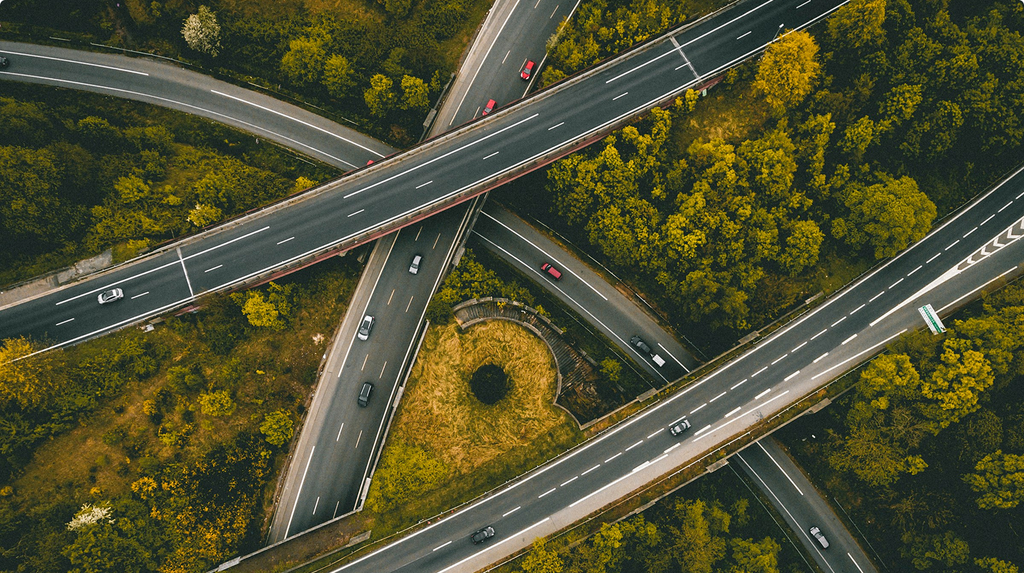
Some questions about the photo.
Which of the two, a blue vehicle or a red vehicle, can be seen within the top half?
red vehicle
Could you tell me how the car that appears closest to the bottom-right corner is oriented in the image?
on a diagonal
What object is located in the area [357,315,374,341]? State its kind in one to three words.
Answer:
car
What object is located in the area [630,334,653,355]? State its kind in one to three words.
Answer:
car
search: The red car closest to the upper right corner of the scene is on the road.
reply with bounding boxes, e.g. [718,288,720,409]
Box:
[520,59,536,80]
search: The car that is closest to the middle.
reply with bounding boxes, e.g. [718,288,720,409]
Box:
[540,262,564,282]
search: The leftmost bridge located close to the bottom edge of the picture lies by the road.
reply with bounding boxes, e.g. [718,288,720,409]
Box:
[203,507,418,573]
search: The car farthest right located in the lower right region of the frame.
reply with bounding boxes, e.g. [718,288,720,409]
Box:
[808,525,832,552]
